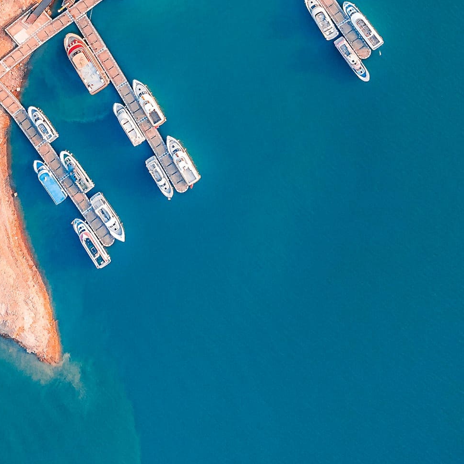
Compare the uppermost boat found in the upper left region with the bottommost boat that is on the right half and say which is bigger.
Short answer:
the uppermost boat found in the upper left region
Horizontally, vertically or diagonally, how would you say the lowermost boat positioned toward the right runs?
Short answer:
diagonally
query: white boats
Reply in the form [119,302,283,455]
[306,0,338,41]
[168,138,199,185]
[67,35,108,95]
[114,104,144,146]
[61,153,95,193]
[90,193,123,243]
[74,221,109,270]
[29,108,58,143]
[146,158,171,200]
[345,2,384,50]
[133,82,164,127]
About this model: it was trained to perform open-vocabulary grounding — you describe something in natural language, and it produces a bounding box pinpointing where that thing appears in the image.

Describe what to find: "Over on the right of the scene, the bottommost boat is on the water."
[335,38,368,83]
